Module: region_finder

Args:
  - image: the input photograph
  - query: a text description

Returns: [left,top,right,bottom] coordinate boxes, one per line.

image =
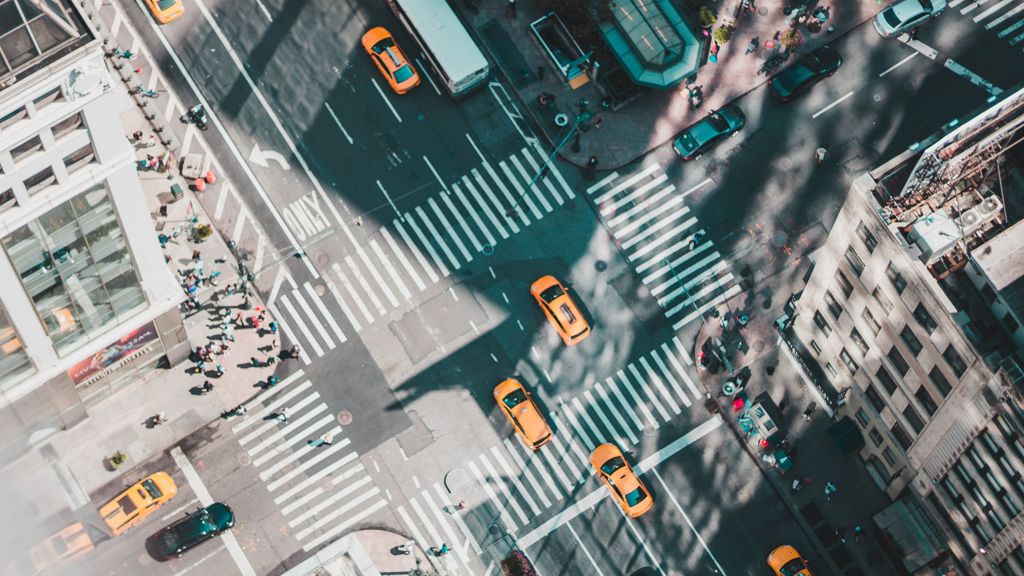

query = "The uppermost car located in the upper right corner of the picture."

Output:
[875,0,944,42]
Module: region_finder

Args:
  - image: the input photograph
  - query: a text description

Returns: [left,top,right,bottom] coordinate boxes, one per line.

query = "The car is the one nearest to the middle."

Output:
[533,278,589,344]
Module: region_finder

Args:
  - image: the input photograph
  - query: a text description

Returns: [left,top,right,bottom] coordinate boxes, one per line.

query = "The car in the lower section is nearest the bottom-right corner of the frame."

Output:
[769,547,809,576]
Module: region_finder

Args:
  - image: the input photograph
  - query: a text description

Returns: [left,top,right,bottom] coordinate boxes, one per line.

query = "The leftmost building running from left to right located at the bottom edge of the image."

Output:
[280,532,380,576]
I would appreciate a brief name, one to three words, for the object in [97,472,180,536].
car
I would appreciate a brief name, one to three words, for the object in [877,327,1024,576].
building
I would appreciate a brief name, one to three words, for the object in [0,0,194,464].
building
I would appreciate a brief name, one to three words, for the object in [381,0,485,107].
bus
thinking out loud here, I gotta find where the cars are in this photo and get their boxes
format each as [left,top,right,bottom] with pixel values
[365,29,418,96]
[533,278,589,344]
[770,51,840,103]
[592,443,653,519]
[147,503,234,562]
[769,547,809,576]
[875,0,944,42]
[97,472,180,536]
[673,108,744,160]
[496,382,552,450]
